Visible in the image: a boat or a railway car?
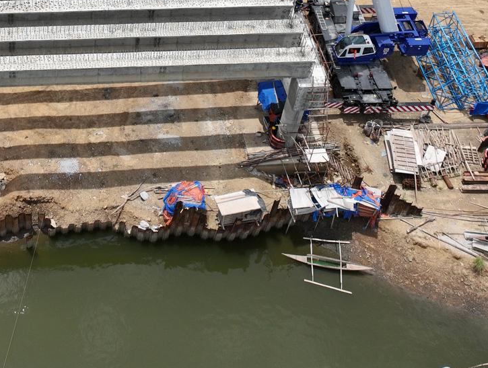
boat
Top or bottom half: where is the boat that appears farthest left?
bottom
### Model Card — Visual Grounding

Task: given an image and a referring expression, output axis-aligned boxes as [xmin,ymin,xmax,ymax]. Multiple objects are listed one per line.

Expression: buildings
[284,182,383,244]
[214,187,269,232]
